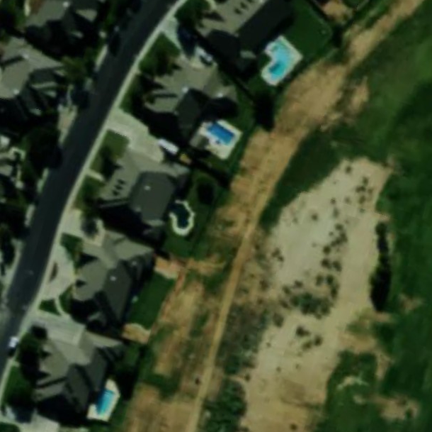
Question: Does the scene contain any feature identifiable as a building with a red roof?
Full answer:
No, the photo shows no building with a red roof.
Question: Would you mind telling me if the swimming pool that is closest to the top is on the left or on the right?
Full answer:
The swimming pool that is closest to the top is on the right side of the image.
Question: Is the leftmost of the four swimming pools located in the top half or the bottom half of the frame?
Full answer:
Seen from above, the leftmost of the four swimming pools lies in the bottom half of the view.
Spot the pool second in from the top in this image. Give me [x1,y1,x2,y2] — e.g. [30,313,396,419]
[203,120,243,153]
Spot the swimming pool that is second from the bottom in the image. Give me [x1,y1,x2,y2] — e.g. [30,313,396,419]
[169,199,195,235]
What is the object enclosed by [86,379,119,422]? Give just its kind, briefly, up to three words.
swimming pool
